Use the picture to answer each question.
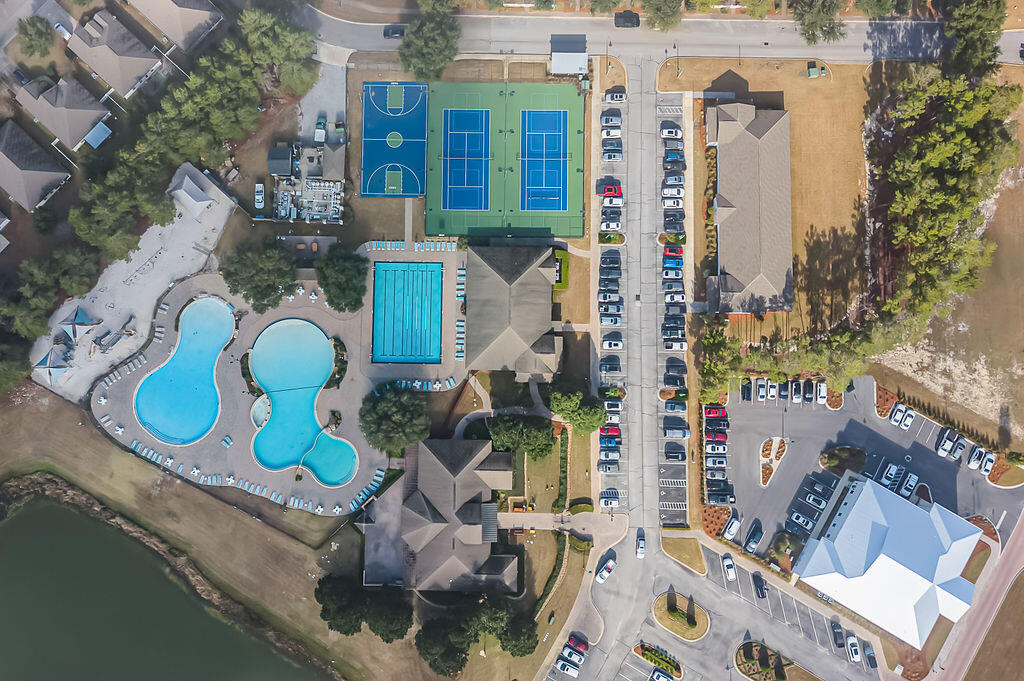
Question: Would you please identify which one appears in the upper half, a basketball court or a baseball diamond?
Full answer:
Visible in the upper half is a basketball court.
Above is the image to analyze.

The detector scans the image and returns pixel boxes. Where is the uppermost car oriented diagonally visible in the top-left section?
[54,22,72,42]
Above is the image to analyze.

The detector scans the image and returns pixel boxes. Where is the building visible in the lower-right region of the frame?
[785,479,983,650]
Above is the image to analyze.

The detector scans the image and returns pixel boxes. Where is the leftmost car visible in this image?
[12,67,32,86]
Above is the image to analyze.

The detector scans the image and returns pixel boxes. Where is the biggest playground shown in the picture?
[84,315,135,357]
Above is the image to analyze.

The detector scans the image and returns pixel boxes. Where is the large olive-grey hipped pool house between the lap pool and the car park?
[466,247,563,383]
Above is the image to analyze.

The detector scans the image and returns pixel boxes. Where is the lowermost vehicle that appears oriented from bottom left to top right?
[596,560,616,584]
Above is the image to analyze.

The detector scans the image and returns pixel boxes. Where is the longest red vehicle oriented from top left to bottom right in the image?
[569,637,589,654]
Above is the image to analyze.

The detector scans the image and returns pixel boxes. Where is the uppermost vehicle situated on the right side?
[616,14,639,26]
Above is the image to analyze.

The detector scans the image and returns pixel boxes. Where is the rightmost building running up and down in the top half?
[703,100,791,314]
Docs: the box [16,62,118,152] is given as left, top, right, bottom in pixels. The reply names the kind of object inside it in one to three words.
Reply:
house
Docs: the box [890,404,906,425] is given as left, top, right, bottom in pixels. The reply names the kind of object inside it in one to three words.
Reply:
car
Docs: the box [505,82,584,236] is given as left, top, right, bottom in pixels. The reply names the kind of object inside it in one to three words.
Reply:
tennis court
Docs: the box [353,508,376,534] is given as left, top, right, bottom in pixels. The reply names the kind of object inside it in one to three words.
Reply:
gazebo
